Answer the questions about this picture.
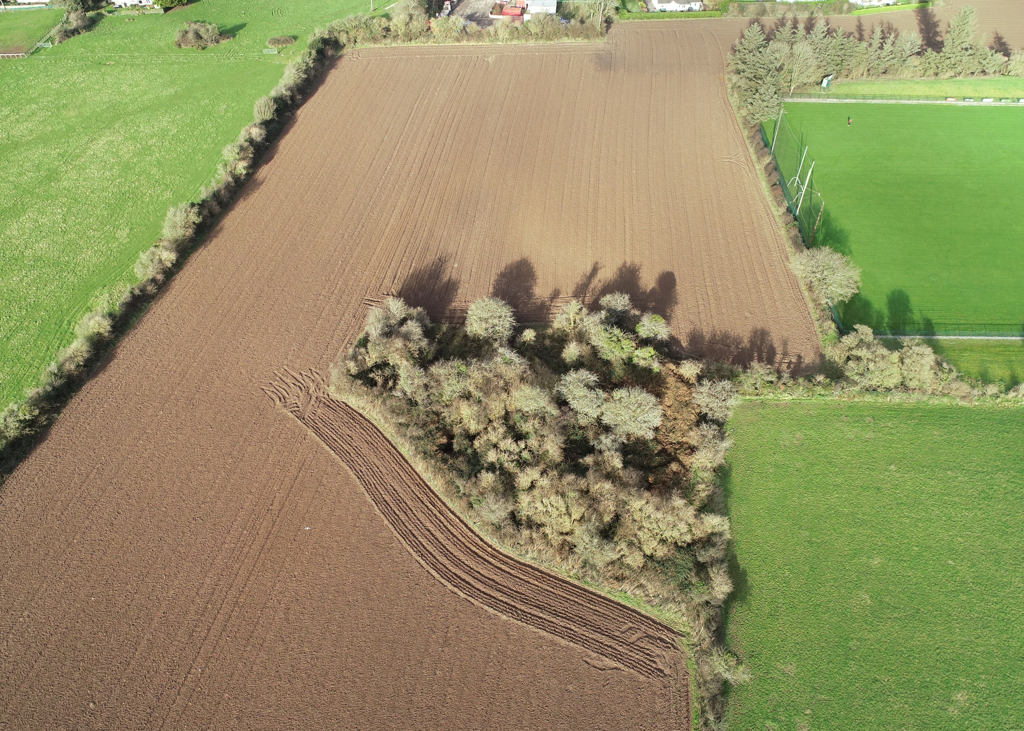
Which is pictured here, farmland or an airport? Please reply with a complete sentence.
This image shows farmland.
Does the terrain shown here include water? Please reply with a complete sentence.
No, water can't be seen anywhere here.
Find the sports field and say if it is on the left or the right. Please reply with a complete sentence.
You can find the sports field on the right side of the picture.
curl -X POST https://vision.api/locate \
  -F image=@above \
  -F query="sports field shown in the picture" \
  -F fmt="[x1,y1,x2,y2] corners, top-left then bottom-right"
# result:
[762,103,1024,337]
